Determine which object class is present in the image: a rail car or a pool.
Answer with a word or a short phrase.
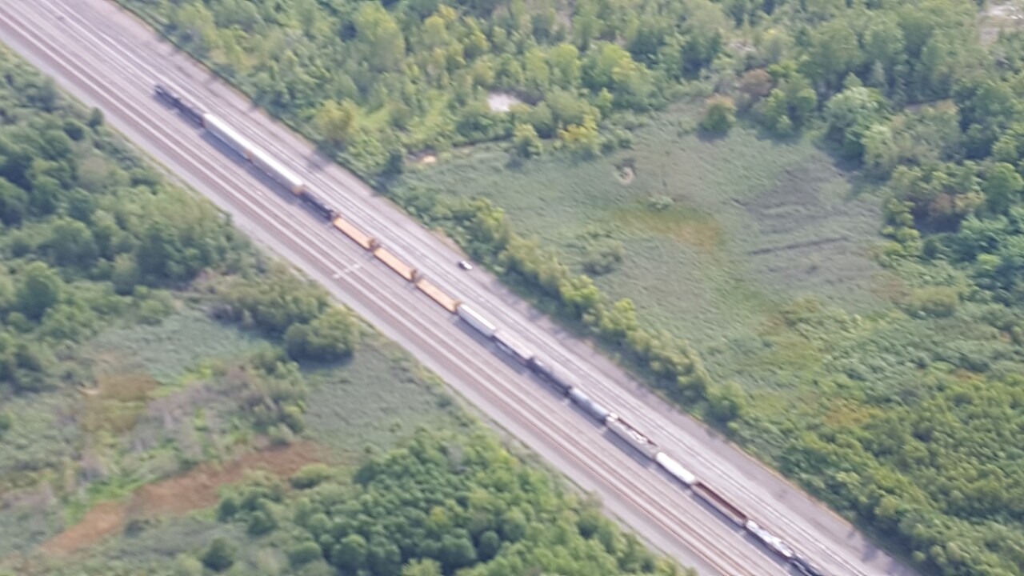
rail car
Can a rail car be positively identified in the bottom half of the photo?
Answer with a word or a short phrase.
Yes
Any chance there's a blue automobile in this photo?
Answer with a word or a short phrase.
No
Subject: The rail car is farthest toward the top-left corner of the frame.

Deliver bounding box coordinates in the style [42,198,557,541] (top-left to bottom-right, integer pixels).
[158,85,182,105]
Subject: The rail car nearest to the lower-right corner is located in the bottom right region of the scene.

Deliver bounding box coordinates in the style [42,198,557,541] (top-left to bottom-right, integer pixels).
[794,556,829,576]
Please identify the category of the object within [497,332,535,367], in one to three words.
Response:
rail car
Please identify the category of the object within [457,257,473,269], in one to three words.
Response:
vehicle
